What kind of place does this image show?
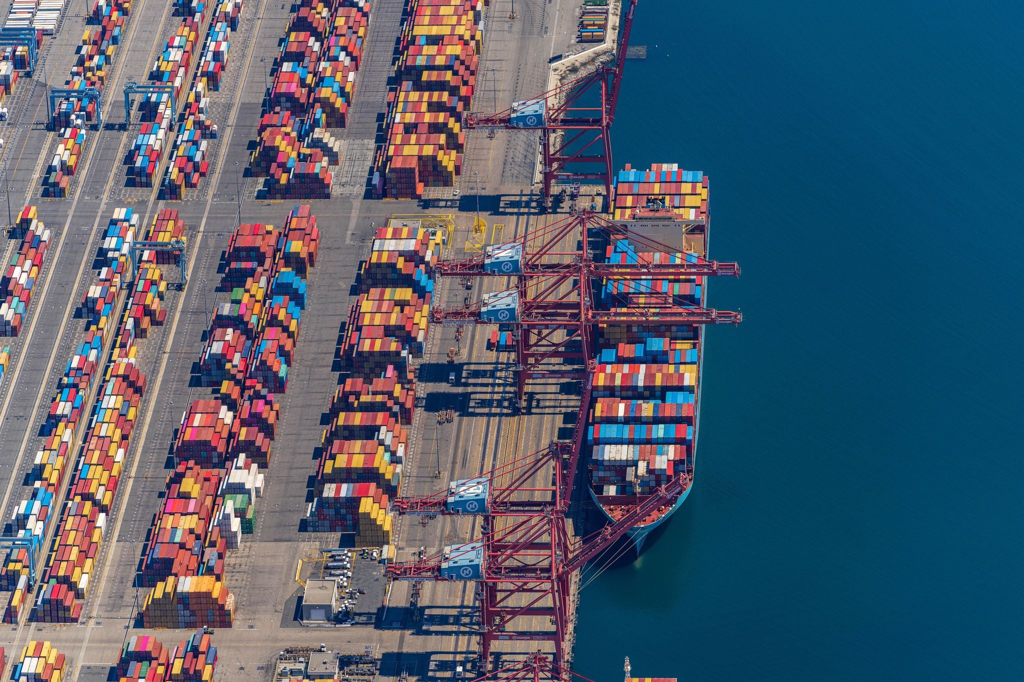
port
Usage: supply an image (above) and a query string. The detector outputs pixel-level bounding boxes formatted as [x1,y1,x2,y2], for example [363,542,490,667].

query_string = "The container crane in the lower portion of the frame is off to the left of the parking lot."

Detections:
[0,533,36,593]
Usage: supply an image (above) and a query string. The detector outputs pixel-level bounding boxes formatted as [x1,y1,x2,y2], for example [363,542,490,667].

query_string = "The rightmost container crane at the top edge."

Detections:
[462,0,635,215]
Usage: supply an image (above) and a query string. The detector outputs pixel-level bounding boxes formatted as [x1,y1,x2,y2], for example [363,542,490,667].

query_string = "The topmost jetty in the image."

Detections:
[615,46,647,63]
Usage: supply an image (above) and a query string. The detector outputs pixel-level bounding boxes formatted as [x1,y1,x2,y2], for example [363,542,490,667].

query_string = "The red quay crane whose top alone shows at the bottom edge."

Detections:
[466,648,619,682]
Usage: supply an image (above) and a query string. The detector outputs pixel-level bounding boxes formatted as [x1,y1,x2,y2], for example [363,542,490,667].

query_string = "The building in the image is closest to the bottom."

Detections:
[304,652,342,682]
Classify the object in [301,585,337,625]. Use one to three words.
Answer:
building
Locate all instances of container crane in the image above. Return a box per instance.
[428,252,745,415]
[437,205,747,366]
[127,235,187,289]
[395,359,599,613]
[47,82,102,132]
[121,82,176,132]
[0,533,36,593]
[383,464,684,681]
[462,0,635,215]
[466,648,619,682]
